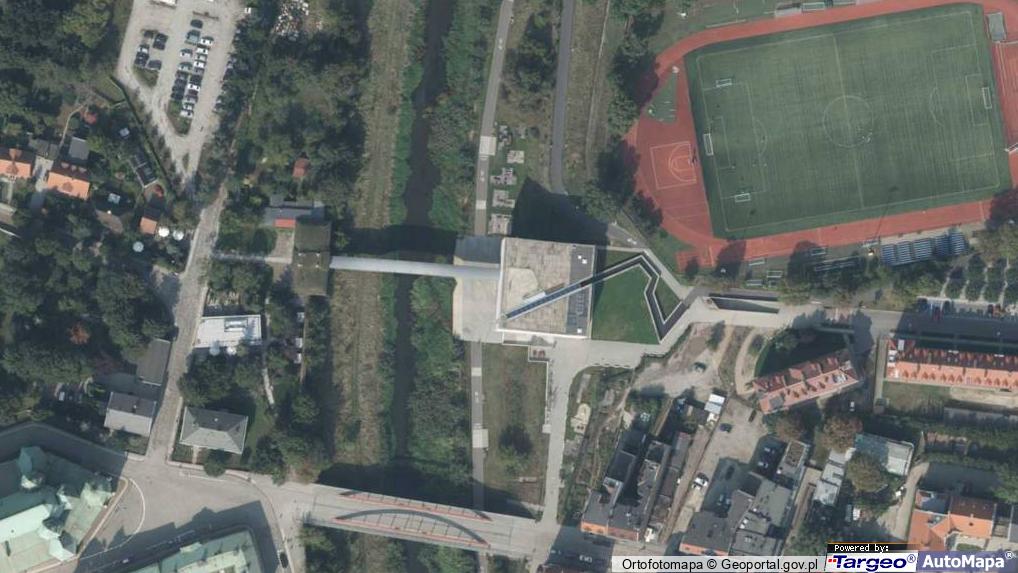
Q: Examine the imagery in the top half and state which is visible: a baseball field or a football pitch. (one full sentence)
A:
You can see a football pitch in the top half.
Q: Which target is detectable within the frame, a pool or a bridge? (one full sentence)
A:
This aerial view contains a bridge.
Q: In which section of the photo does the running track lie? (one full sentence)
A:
The running track is located in the top right region of the scene.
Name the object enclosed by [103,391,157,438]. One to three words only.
house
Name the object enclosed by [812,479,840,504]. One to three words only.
shed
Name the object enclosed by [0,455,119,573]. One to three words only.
building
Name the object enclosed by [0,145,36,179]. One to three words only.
house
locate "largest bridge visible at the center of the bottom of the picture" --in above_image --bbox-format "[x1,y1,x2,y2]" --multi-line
[303,484,548,556]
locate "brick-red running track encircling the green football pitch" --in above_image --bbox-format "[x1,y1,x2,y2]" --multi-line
[624,0,1018,273]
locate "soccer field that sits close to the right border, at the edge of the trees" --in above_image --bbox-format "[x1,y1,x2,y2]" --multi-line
[686,3,1012,240]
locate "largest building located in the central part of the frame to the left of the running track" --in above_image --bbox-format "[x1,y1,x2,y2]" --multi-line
[496,237,596,338]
